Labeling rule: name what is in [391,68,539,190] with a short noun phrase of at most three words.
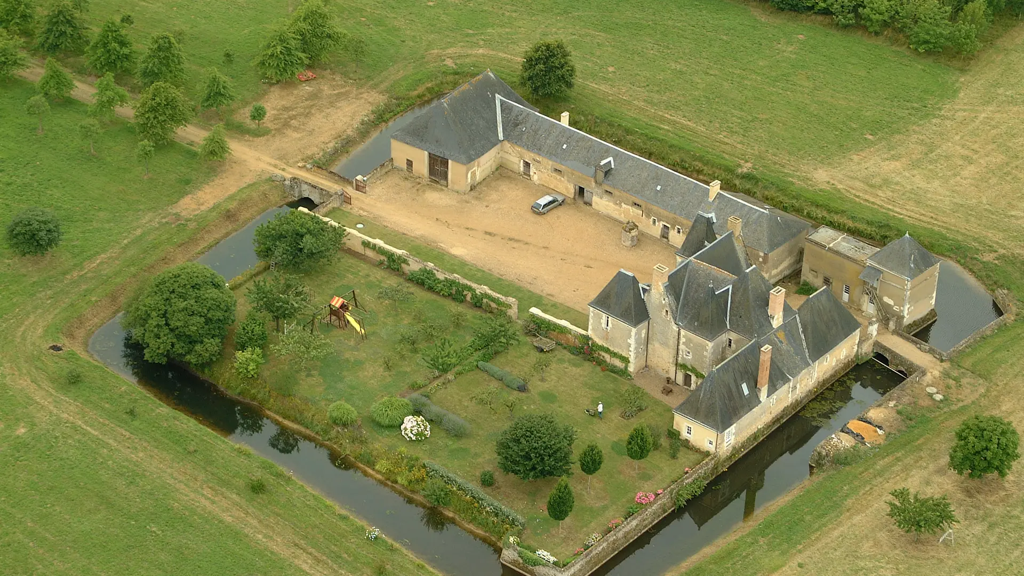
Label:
barn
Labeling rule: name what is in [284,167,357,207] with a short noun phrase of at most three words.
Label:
bridge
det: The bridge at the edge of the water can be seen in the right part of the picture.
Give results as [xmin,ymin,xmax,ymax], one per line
[872,336,948,381]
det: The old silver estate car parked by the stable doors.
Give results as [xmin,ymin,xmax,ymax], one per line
[528,191,568,215]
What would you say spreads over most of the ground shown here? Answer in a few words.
grass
